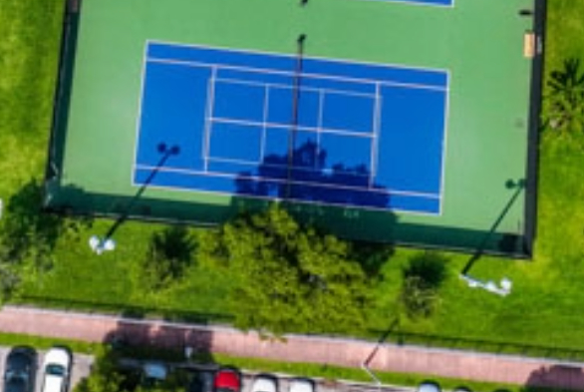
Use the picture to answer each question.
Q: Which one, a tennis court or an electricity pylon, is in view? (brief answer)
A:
tennis court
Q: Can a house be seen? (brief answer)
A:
No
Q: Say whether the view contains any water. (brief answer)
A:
No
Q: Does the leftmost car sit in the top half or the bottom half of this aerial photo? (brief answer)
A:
bottom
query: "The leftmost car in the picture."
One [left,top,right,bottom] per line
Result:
[4,349,34,392]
